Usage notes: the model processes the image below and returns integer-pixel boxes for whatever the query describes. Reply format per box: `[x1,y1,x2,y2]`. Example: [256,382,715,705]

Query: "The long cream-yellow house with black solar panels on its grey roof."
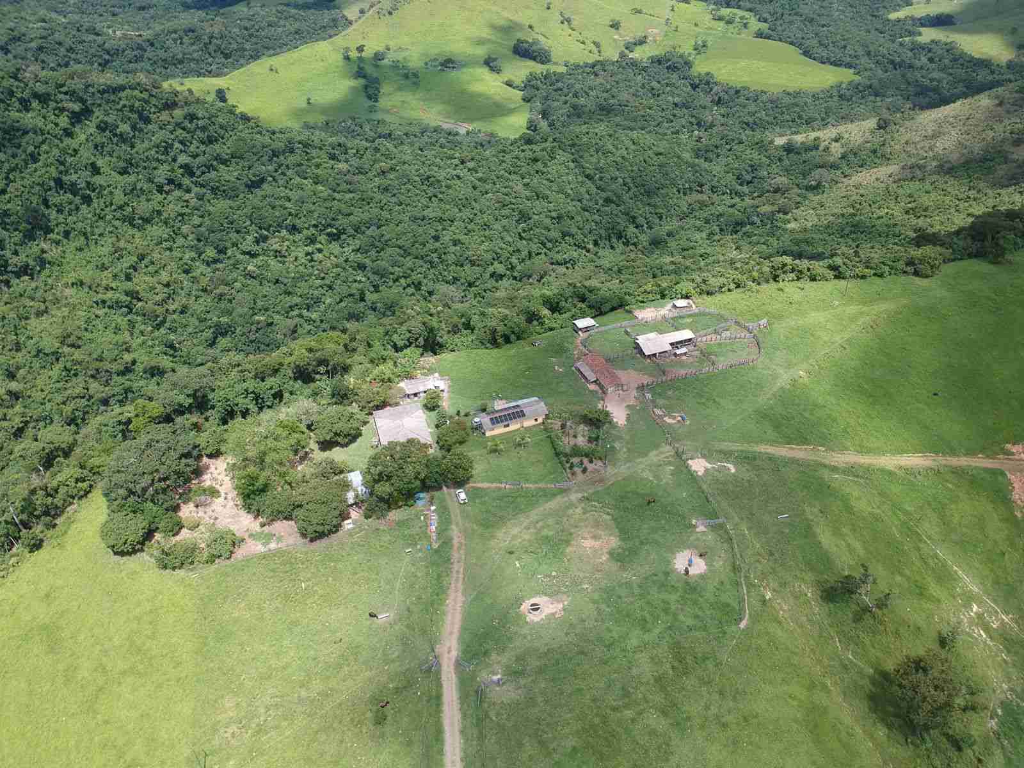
[475,399,548,439]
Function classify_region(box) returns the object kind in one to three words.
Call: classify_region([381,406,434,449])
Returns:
house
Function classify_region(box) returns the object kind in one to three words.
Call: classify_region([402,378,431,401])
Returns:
shed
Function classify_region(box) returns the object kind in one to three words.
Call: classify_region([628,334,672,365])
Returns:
barn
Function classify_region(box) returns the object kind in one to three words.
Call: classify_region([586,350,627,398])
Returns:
barn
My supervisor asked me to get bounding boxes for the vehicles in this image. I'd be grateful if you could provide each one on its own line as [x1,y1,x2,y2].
[456,490,468,505]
